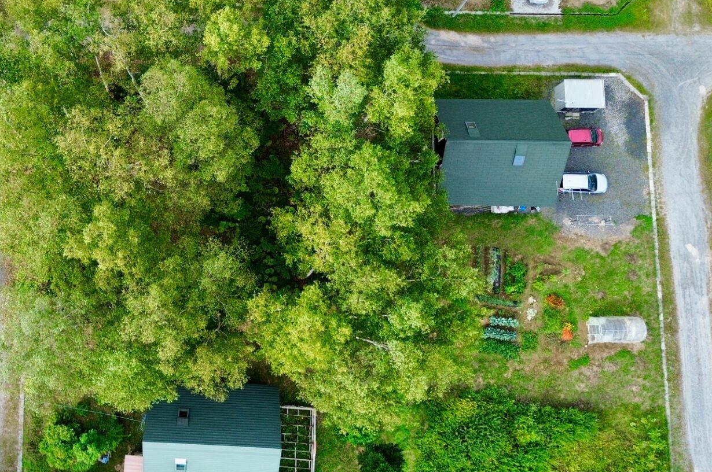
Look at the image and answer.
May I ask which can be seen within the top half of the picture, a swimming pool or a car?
car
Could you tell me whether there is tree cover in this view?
Yes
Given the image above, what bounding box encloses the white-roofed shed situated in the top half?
[554,79,605,112]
